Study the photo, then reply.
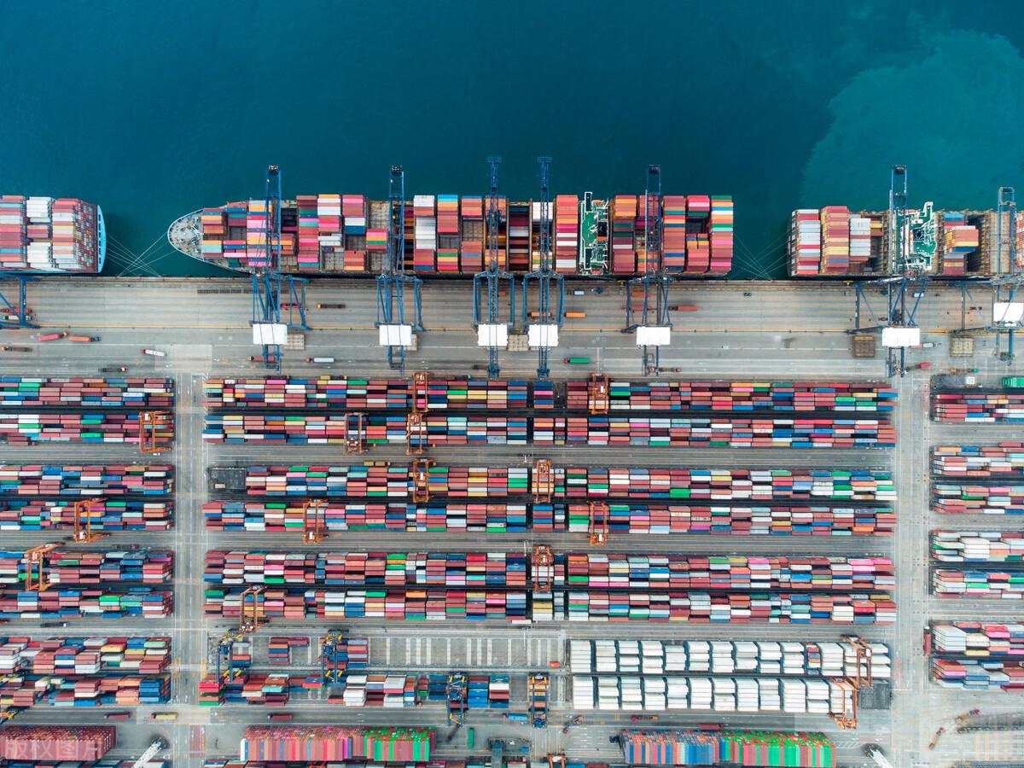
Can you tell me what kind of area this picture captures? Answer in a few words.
port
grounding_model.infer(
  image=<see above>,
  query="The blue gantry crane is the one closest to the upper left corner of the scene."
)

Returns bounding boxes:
[0,277,40,327]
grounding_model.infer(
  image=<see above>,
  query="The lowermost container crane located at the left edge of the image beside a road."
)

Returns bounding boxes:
[0,666,35,724]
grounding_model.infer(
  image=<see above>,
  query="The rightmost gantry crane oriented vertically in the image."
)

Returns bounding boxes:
[956,182,1024,370]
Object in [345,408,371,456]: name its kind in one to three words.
container crane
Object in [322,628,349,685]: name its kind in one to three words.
container crane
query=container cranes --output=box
[322,628,349,685]
[412,453,435,503]
[956,182,1024,370]
[376,167,425,372]
[585,495,607,546]
[585,370,608,416]
[406,408,429,456]
[345,408,371,456]
[251,166,312,371]
[532,539,552,592]
[0,277,40,327]
[73,494,111,544]
[475,154,515,377]
[302,493,330,544]
[523,155,562,377]
[411,369,434,415]
[839,631,873,688]
[531,454,552,503]
[624,169,673,374]
[25,537,65,590]
[826,671,859,730]
[216,630,248,687]
[137,407,173,454]
[848,170,925,375]
[240,582,270,633]
[0,666,35,724]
